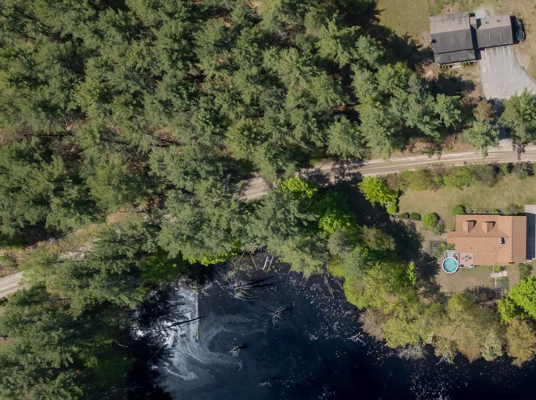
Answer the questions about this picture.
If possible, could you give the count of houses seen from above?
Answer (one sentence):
The picture shows 2 houses.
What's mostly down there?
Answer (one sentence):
The largest share of the image is taken up by trees.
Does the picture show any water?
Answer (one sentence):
Yes, water can be seen from above here.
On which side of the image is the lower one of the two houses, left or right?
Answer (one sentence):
The lower one of the two houses sits on the right side.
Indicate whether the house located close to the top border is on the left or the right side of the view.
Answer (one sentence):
The house located close to the top border sits on the right side.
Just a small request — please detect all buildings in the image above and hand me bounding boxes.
[429,15,515,71]
[447,214,527,265]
